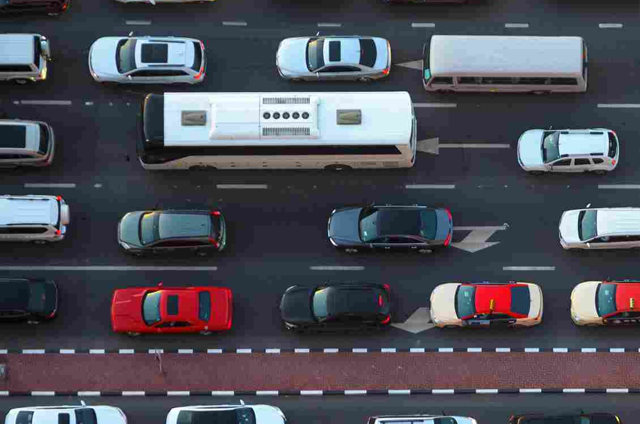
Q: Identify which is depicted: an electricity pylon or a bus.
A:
bus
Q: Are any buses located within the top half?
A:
Yes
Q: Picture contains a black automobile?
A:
Yes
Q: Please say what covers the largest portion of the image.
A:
paved ground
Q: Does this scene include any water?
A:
No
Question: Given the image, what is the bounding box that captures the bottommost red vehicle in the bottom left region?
[110,280,232,337]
